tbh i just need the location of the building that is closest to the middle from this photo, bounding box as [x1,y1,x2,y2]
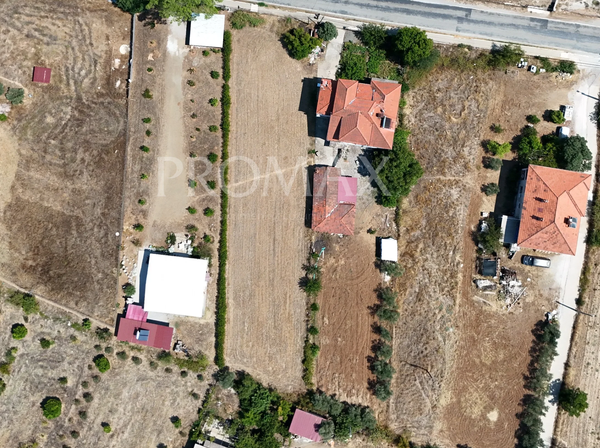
[311,166,358,235]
